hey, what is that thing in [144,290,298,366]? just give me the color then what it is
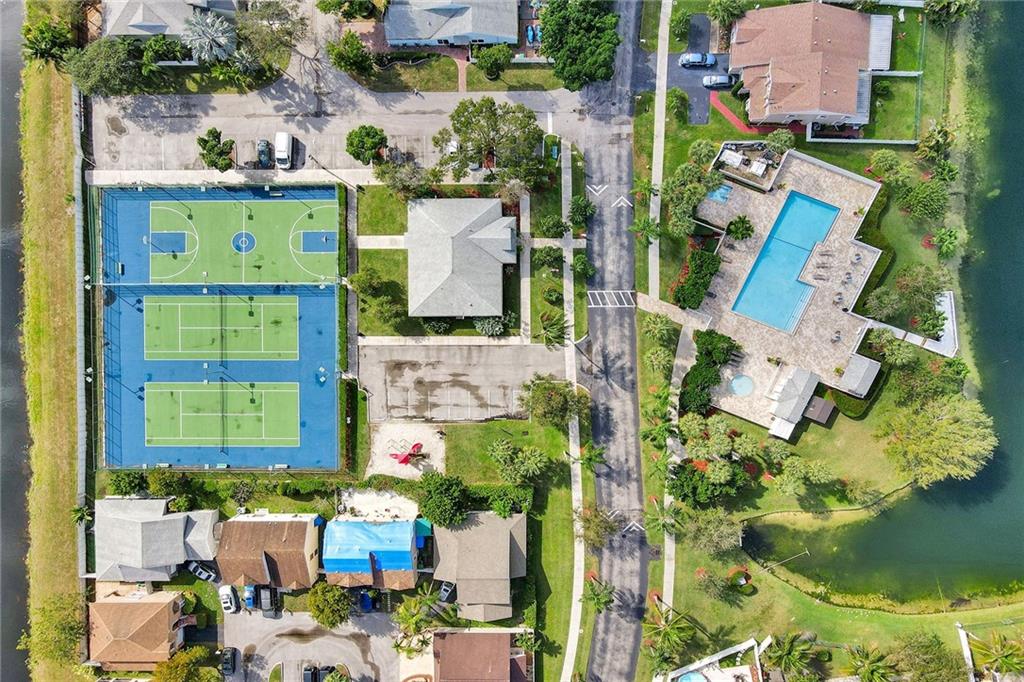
green tennis court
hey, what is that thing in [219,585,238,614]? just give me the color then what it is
white car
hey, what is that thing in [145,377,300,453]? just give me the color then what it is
green tennis court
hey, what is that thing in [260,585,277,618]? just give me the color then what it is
gray vehicle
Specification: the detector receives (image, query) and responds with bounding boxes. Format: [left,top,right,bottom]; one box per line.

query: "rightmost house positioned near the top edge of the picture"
[724,2,870,125]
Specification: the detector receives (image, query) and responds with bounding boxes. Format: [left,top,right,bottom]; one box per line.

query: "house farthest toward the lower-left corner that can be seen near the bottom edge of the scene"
[89,594,181,671]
